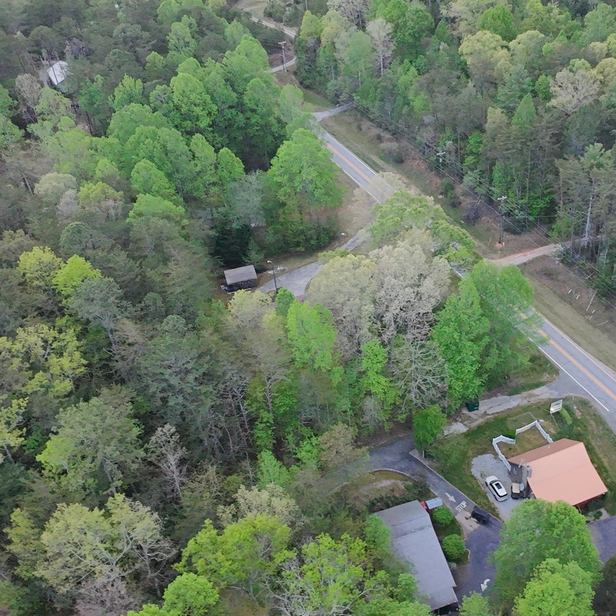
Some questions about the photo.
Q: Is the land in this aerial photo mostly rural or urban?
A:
rural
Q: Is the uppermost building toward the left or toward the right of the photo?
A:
left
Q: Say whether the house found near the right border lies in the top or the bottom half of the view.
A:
bottom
